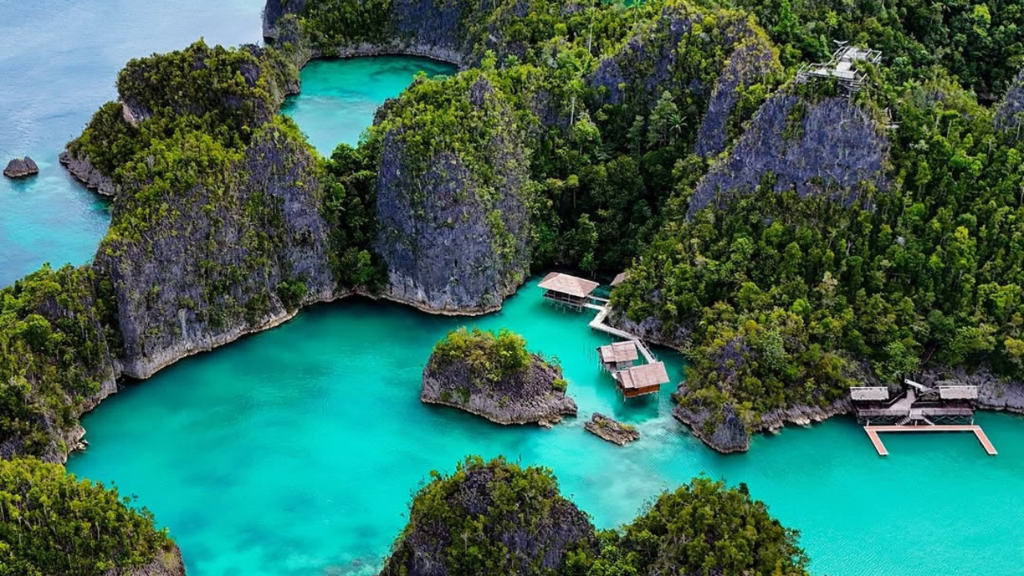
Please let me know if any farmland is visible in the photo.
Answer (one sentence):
No, no farmland is visible.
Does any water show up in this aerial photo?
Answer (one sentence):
Yes, water can be seen from above here.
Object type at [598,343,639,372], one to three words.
shed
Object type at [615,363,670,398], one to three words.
shed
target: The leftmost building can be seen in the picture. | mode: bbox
[538,271,595,309]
